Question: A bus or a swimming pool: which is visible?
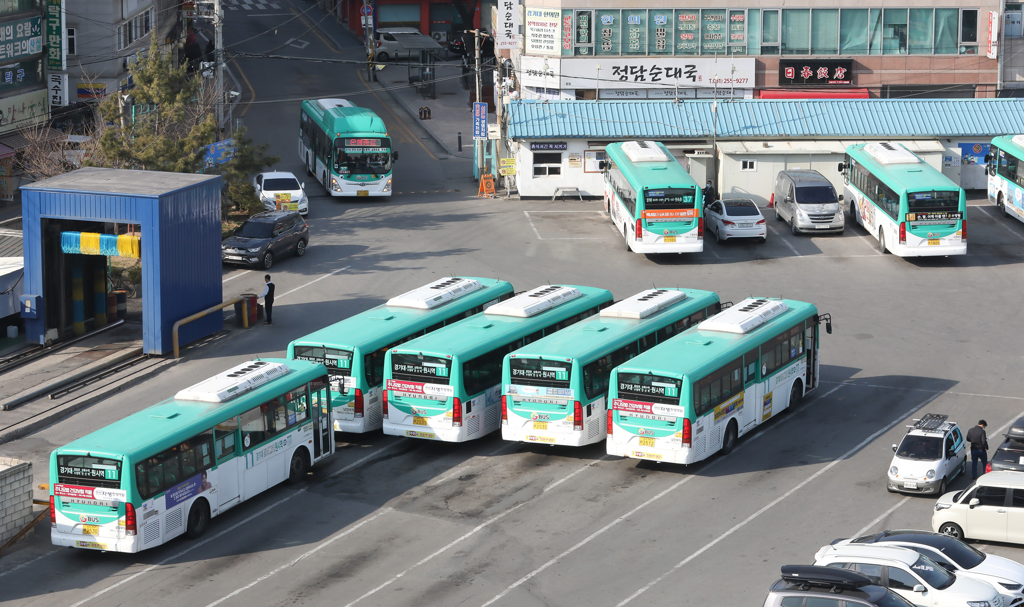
bus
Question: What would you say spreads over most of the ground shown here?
paved ground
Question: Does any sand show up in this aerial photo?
No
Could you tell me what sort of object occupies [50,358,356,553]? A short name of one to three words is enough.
bus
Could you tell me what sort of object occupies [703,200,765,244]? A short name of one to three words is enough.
car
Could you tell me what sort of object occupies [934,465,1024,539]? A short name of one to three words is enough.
car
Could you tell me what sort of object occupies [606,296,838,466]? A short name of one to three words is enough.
bus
